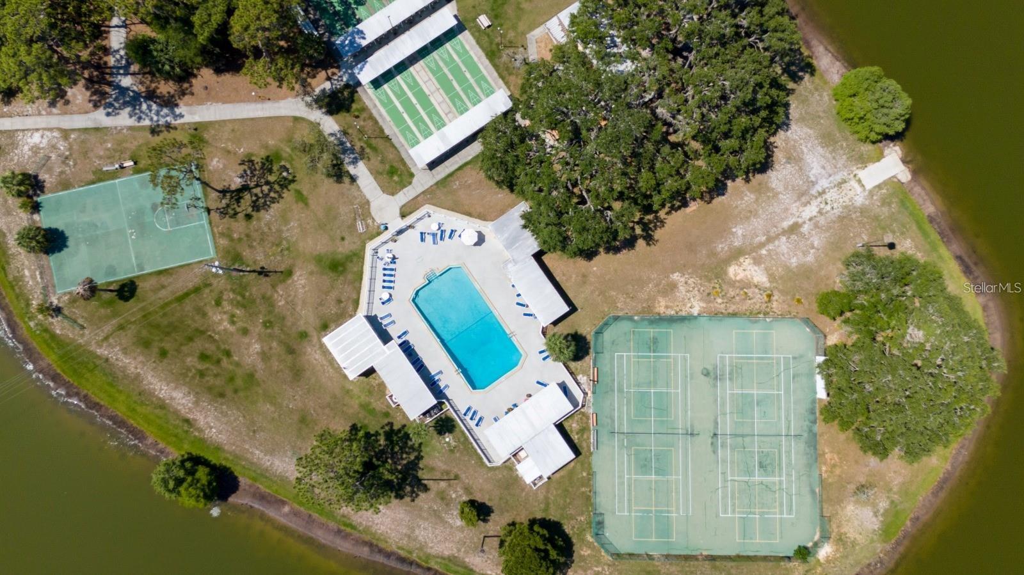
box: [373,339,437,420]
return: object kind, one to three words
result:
building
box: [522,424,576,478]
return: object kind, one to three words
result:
building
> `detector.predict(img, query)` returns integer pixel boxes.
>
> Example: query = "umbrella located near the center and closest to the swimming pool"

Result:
[461,229,478,246]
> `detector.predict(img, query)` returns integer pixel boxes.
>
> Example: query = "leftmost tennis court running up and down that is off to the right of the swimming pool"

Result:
[592,315,706,555]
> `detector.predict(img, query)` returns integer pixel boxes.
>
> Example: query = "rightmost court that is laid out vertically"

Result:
[704,316,820,555]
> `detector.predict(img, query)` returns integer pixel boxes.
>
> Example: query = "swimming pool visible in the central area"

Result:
[406,262,527,394]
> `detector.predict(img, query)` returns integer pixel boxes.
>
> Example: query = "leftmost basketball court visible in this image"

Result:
[38,161,216,294]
